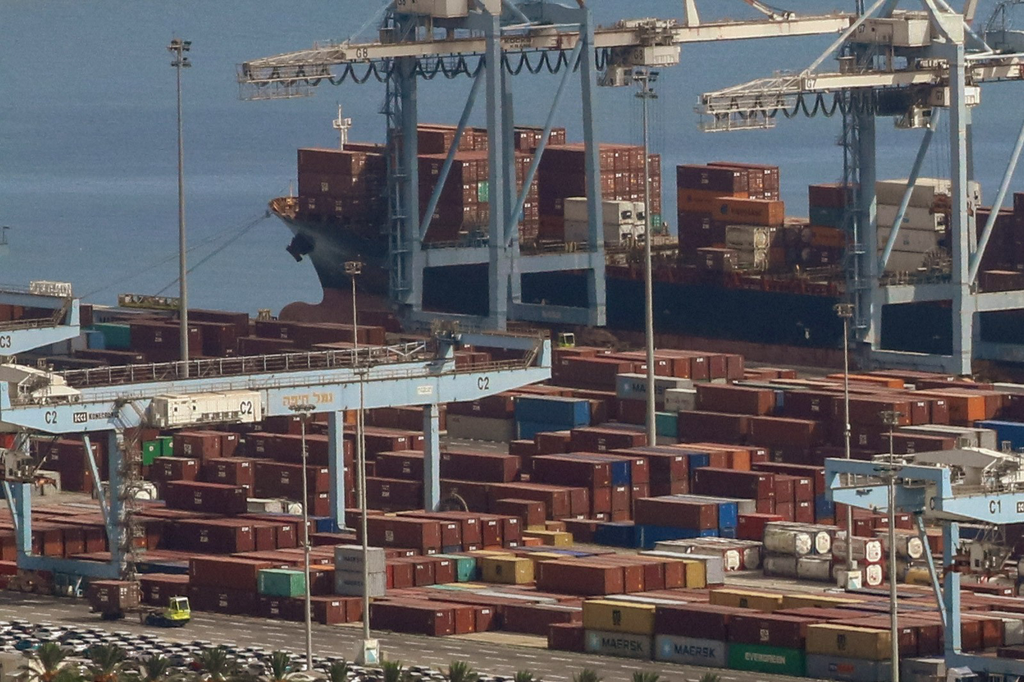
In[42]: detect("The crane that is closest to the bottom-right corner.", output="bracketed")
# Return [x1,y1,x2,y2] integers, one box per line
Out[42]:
[817,432,1024,682]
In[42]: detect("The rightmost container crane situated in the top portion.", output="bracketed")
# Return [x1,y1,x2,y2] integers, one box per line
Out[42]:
[687,0,1024,376]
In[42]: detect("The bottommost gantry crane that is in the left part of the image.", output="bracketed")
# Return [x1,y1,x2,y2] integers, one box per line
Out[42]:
[0,315,551,582]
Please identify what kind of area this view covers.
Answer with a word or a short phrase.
port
